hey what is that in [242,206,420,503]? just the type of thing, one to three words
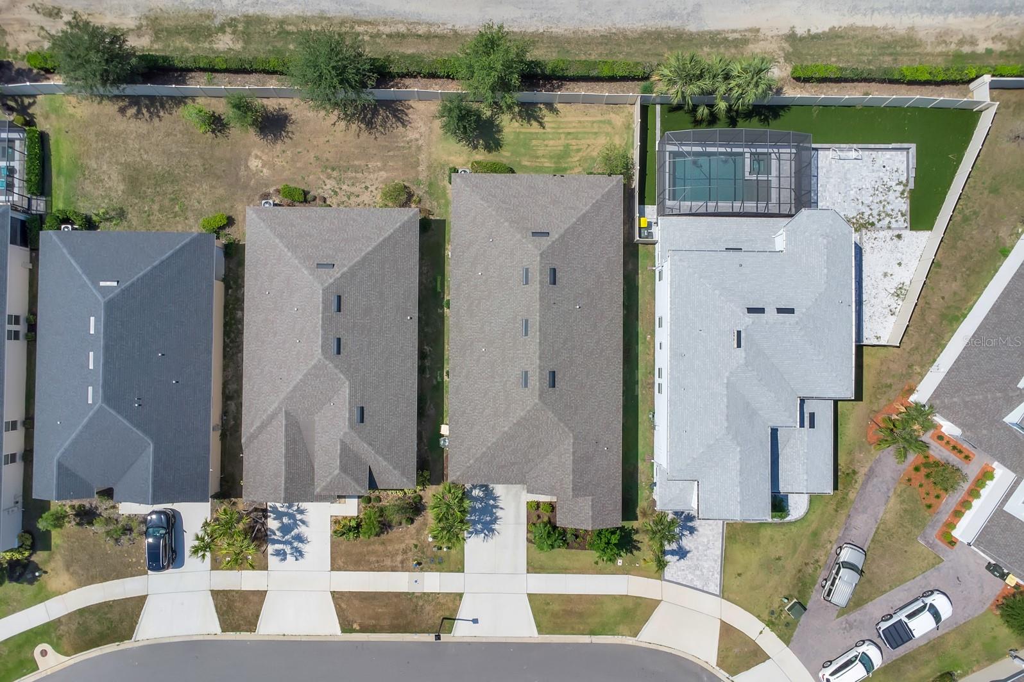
house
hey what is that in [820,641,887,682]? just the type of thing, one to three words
car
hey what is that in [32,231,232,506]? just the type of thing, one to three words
house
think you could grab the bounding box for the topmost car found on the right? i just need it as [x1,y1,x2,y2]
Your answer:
[823,541,870,610]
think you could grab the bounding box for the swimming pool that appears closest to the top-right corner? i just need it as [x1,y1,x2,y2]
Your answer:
[668,144,776,207]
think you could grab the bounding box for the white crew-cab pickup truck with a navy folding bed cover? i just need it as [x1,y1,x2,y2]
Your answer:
[879,590,959,652]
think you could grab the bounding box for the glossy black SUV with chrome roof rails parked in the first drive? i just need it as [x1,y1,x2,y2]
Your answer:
[140,508,178,577]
